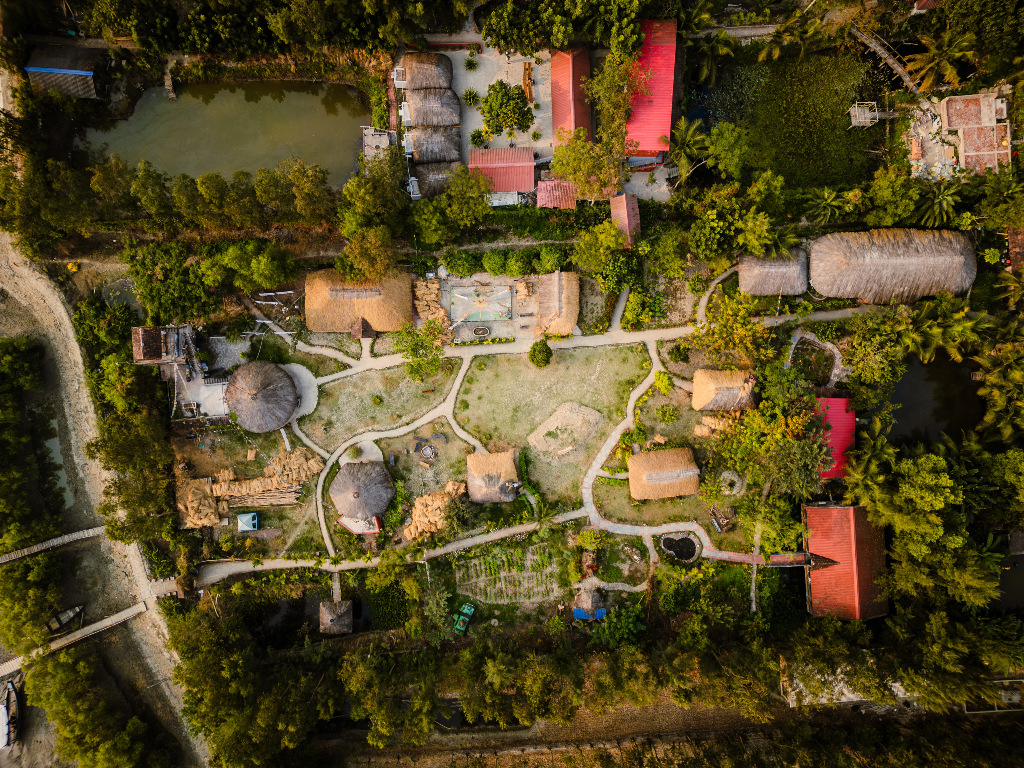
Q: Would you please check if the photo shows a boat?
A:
Yes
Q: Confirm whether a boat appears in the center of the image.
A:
No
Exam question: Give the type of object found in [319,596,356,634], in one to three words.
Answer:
gazebo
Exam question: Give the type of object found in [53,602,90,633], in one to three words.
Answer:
boat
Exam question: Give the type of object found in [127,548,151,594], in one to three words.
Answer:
bridge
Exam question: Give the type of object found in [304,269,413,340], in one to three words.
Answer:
building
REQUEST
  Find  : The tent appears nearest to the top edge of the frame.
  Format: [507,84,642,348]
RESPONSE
[237,513,259,532]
